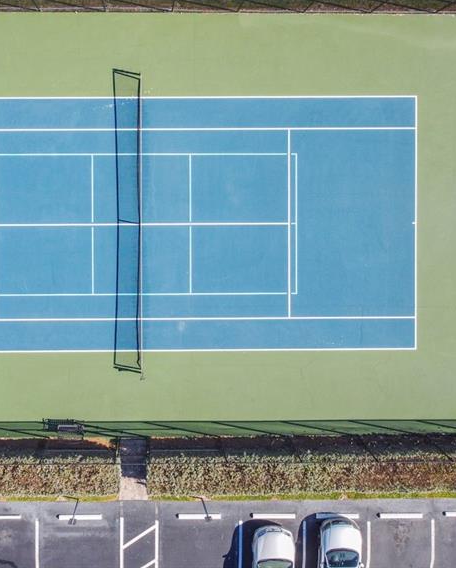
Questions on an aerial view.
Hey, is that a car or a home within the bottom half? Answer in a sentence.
There is a car within the bottom half.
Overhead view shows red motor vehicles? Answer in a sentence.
No, there isn't any red motor vehicle down there.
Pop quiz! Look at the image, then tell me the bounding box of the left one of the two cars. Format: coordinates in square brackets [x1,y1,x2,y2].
[250,525,294,568]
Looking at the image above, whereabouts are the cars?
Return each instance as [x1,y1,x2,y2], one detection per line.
[250,525,294,568]
[316,517,369,568]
